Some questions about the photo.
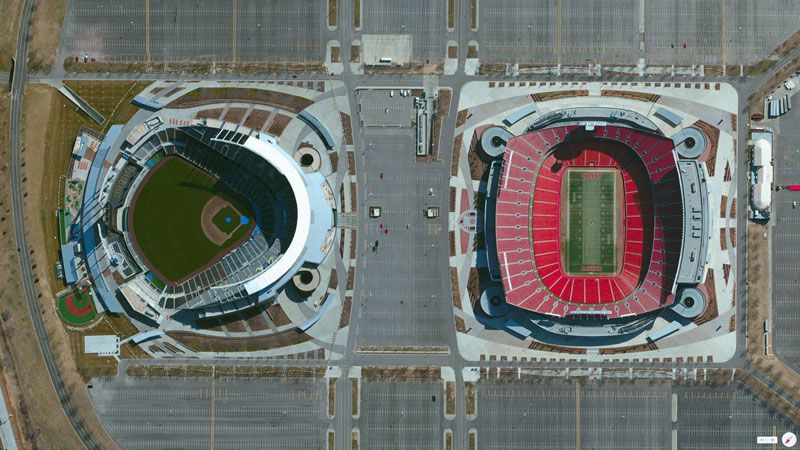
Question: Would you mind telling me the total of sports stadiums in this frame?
2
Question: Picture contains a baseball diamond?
Yes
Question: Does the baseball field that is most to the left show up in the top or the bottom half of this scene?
bottom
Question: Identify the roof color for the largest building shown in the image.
white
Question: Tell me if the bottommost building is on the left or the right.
left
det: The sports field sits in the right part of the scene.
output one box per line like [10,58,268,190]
[560,166,623,277]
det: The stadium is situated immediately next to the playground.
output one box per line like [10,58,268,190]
[81,116,338,326]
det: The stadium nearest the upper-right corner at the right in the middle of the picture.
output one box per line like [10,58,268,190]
[480,107,712,337]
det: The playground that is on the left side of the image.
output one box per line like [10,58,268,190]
[65,179,84,214]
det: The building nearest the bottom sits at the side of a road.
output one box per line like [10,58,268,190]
[84,335,120,356]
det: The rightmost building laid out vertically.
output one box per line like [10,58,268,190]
[752,132,774,220]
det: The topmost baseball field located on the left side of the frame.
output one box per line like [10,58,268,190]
[130,152,259,288]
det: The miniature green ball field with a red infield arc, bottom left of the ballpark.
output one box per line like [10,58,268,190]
[59,284,98,324]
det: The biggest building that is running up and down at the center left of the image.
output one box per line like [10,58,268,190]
[61,245,77,284]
